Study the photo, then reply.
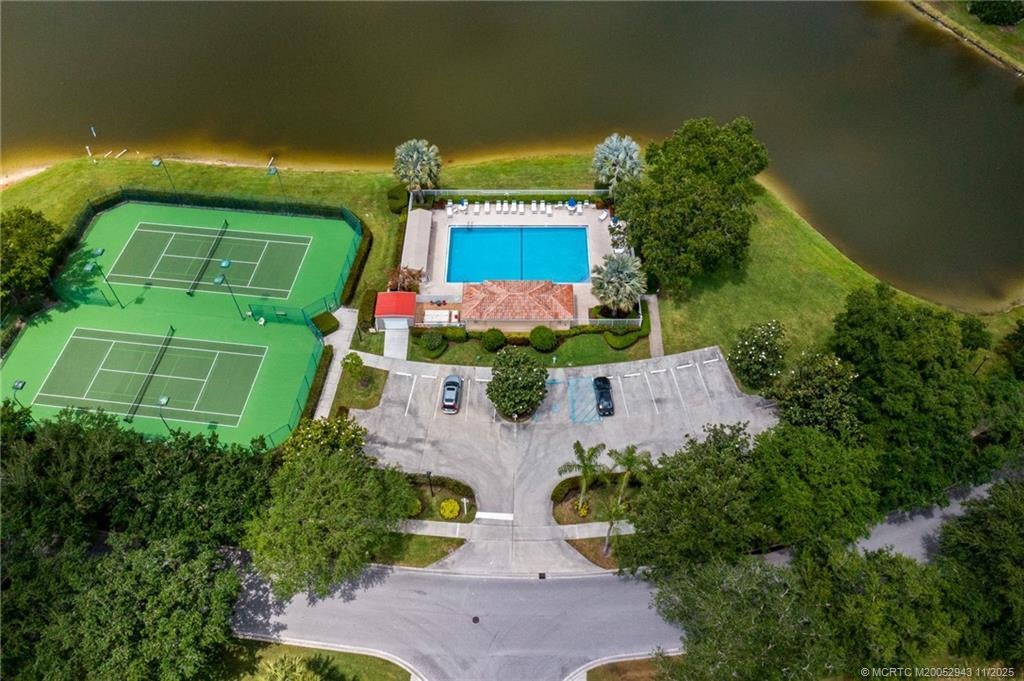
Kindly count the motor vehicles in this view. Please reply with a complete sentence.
The number of motor vehicles here is 2.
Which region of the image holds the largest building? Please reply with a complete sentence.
Look in the center portion of the view to spot the largest building.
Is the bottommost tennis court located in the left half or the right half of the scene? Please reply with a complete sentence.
You can find the bottommost tennis court on the left side of the picture.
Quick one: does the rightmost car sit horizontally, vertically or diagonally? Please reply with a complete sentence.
The rightmost car has been laid out vertically relative to the frame.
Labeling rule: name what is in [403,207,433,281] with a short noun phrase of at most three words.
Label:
building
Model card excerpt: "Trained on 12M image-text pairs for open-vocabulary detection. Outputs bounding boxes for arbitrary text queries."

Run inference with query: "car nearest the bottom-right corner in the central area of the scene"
[593,379,613,416]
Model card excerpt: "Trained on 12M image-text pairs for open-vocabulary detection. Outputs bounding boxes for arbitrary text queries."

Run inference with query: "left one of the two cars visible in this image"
[442,377,463,414]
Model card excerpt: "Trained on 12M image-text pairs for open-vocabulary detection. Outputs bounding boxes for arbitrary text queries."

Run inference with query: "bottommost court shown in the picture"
[0,299,322,459]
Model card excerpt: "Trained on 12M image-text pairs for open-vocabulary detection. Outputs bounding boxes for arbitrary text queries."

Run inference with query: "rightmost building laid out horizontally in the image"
[460,279,575,334]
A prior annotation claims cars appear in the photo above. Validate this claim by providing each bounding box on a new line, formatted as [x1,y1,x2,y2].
[442,377,463,414]
[593,379,613,416]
